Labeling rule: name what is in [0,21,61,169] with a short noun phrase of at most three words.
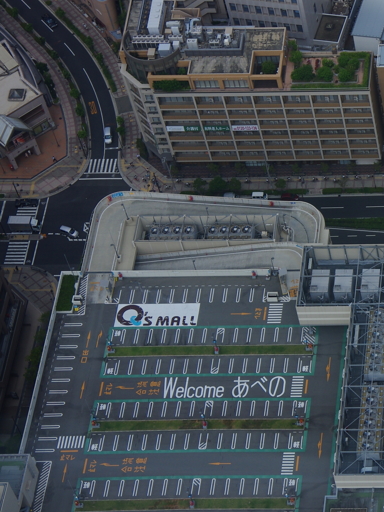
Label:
building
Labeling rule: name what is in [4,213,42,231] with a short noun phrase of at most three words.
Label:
vehicle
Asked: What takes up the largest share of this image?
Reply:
buildings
